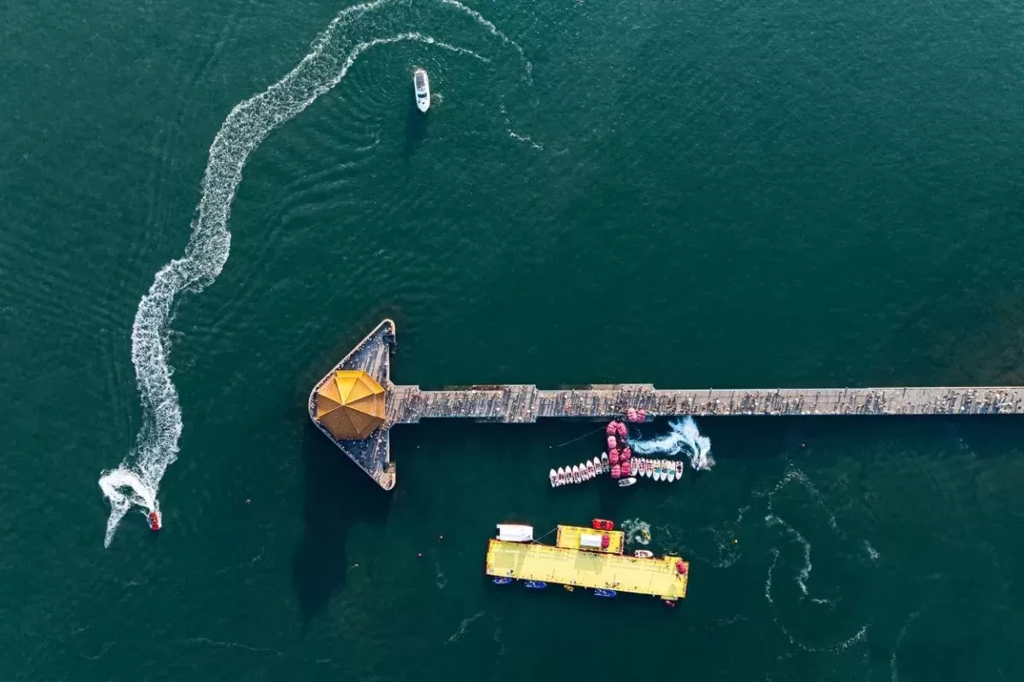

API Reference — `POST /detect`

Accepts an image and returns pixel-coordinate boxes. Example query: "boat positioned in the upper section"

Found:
[413,66,431,112]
